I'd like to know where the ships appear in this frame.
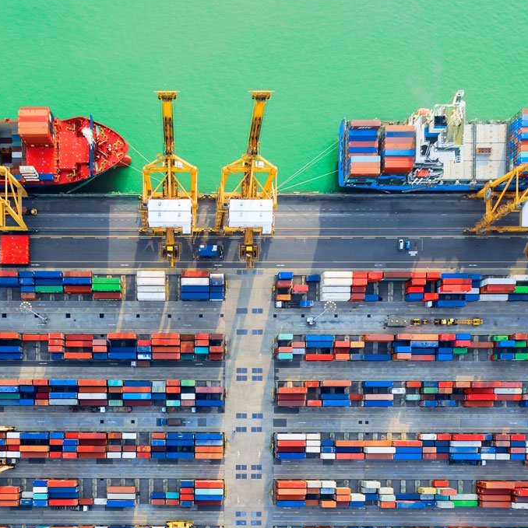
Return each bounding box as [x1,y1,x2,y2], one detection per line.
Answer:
[334,88,528,192]
[0,114,135,193]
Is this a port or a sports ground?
port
